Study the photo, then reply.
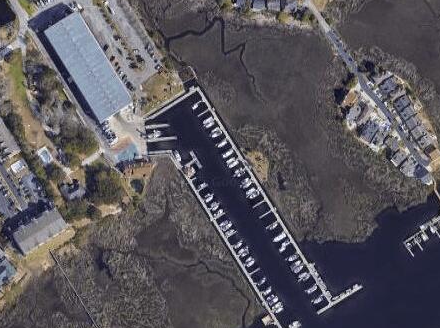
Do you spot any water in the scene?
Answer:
Yes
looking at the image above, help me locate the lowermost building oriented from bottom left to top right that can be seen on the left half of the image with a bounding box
[12,207,68,254]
